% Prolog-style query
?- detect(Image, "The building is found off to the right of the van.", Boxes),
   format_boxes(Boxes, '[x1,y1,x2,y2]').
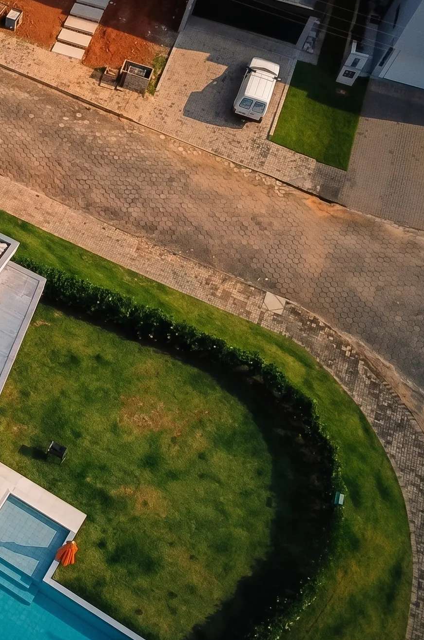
[371,0,424,90]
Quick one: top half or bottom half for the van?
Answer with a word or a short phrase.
top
